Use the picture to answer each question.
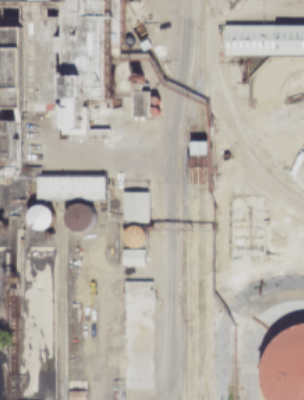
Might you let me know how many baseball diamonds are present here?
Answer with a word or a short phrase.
0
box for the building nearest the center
[123,192,152,223]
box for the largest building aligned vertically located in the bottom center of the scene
[126,282,157,390]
